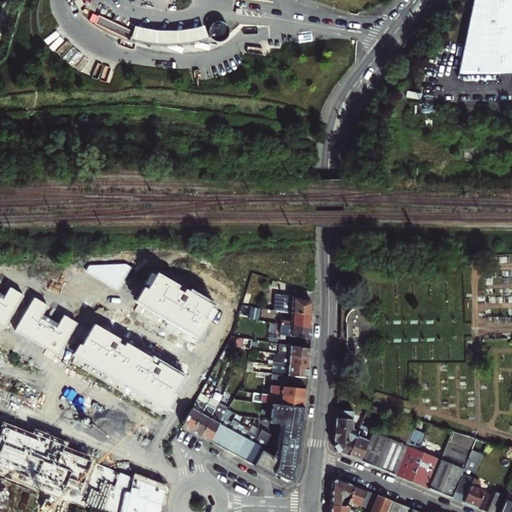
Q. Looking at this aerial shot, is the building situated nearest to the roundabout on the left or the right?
left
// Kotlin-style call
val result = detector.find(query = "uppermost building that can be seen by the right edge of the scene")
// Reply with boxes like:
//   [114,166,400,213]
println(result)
[456,0,512,75]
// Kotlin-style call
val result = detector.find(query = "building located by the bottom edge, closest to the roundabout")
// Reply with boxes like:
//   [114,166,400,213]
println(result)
[129,472,168,512]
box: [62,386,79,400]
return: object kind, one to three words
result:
vehicle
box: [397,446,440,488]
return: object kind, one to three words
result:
house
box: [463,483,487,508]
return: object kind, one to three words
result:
house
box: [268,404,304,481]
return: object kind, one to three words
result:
building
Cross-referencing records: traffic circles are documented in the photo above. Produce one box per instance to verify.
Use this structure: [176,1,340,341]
[168,474,228,512]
